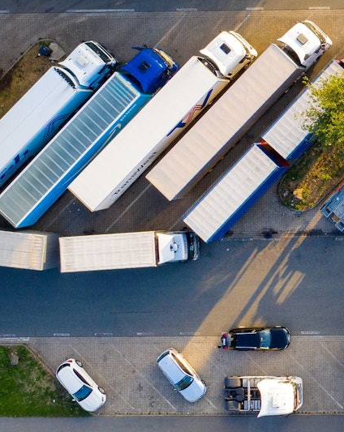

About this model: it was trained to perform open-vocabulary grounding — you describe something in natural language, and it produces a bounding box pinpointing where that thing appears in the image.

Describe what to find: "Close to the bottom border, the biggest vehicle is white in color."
[225,378,303,421]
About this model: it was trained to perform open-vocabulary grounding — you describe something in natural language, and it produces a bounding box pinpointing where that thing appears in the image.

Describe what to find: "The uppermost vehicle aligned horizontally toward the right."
[216,324,290,353]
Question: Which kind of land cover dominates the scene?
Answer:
paved ground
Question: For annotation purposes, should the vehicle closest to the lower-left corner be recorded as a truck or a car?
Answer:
car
